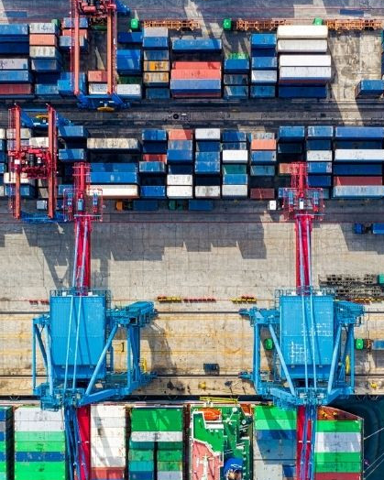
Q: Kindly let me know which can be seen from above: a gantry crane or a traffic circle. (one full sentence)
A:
It is a gantry crane that can be seen here.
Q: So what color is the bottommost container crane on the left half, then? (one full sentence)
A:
From above, the bottommost container crane on the left half appears blue.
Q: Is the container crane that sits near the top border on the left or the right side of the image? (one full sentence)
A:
The container crane that sits near the top border appears in the left half of the scene.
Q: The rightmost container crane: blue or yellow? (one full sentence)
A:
In this view, the rightmost container crane is blue.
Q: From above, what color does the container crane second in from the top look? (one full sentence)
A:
The container crane second in from the top looks red in the image.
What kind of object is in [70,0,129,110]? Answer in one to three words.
container crane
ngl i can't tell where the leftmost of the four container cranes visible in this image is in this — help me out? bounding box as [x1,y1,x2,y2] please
[11,102,75,220]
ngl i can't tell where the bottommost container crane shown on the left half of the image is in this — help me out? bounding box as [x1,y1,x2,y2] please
[28,162,160,480]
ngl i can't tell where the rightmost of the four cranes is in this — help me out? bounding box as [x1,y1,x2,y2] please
[236,162,368,480]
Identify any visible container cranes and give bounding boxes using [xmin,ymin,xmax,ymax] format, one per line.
[28,162,160,480]
[236,162,368,480]
[70,0,129,110]
[11,102,75,220]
